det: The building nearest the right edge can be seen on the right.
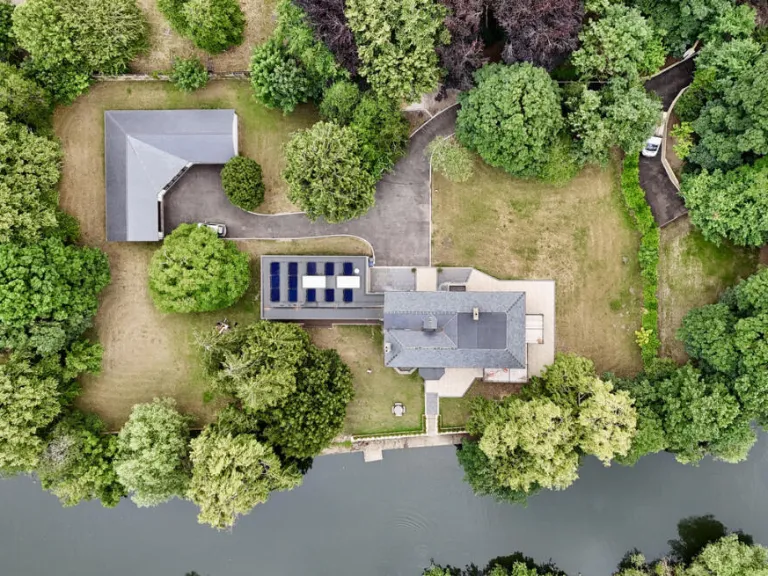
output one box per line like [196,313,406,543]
[384,284,543,382]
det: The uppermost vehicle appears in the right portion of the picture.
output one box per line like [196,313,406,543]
[640,133,663,161]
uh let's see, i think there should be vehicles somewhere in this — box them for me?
[640,133,663,161]
[198,221,227,236]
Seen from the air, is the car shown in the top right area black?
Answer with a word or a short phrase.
No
